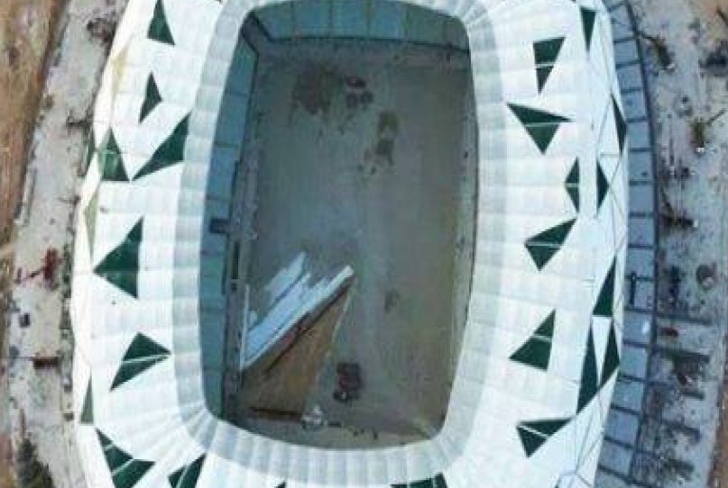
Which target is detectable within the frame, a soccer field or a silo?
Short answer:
soccer field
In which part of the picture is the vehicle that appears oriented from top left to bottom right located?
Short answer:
bottom right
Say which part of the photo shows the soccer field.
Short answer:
center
